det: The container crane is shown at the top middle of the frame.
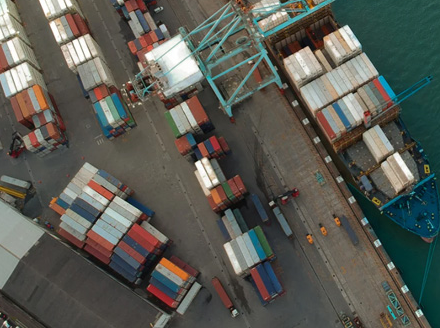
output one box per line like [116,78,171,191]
[110,0,336,123]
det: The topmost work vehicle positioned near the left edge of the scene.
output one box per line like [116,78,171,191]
[9,132,27,158]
